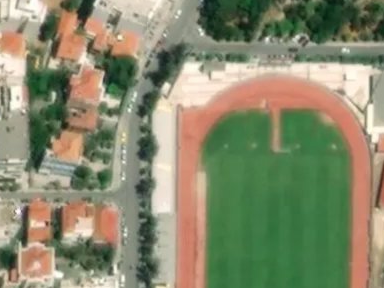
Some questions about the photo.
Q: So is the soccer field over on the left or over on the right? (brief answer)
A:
right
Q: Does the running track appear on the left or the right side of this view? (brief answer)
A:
right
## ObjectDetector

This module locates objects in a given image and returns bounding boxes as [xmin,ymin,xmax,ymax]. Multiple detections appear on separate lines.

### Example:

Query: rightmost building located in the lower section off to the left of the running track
[94,204,119,246]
